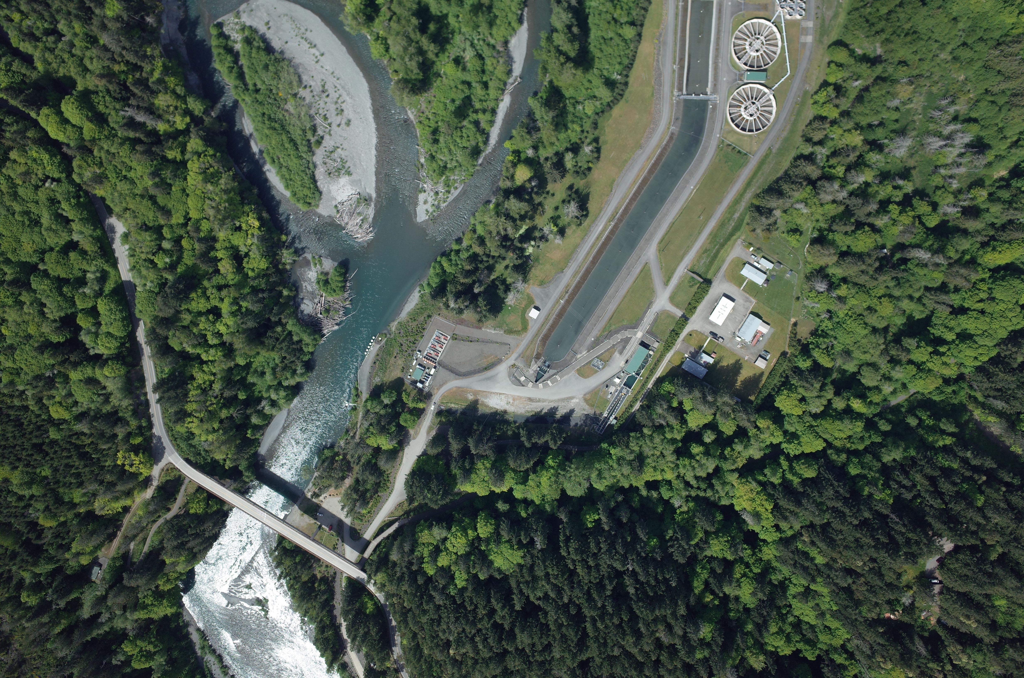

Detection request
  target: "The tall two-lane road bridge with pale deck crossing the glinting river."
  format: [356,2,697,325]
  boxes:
[165,449,375,589]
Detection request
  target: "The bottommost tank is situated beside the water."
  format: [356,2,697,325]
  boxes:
[726,84,777,135]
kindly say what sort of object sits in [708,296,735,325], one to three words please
building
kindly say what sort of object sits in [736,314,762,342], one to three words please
building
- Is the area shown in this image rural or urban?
rural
